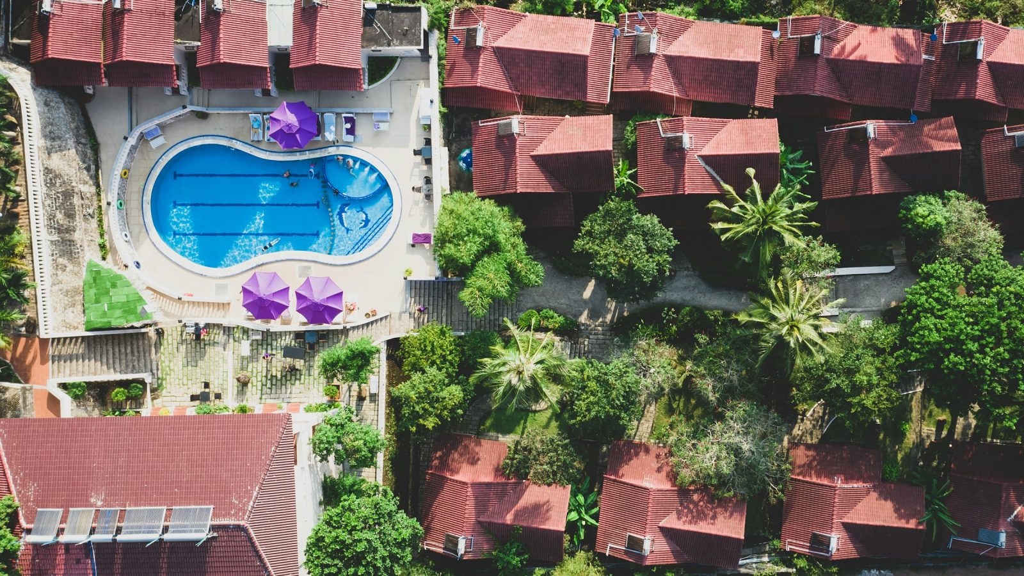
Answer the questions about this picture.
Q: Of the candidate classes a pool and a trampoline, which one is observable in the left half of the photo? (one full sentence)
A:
What appears in the left half of the photo is a pool.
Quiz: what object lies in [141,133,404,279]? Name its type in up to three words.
swimming pool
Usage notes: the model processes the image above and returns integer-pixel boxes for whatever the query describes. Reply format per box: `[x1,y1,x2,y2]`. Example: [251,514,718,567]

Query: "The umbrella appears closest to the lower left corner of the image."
[244,273,290,318]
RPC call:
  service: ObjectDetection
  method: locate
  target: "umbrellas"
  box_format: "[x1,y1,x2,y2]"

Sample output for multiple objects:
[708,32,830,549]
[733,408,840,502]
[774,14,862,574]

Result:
[244,273,290,318]
[270,101,319,150]
[298,277,343,323]
[454,145,474,178]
